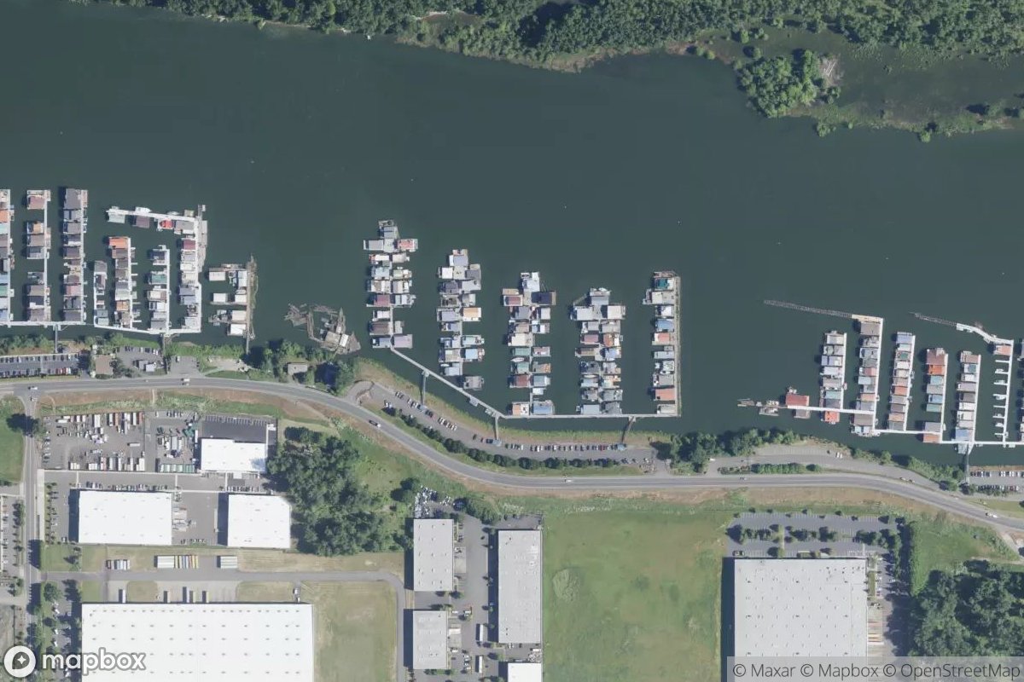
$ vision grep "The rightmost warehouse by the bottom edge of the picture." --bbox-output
[734,559,867,682]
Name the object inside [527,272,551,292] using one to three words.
house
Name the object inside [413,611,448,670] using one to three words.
building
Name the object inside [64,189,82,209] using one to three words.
house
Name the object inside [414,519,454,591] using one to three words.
building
